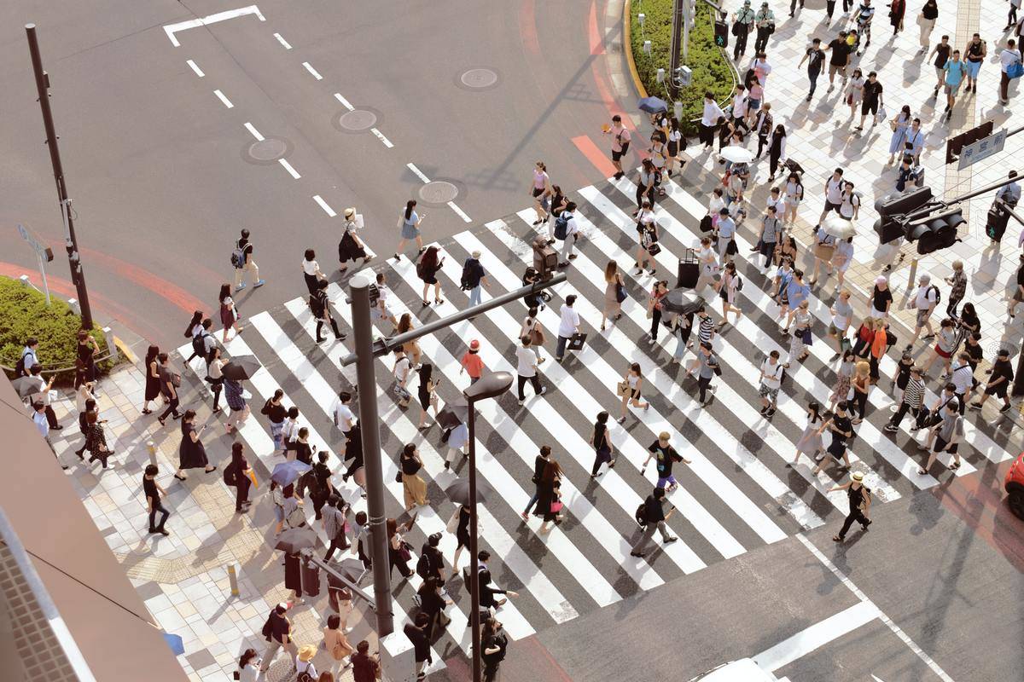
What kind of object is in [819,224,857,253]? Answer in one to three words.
umbrella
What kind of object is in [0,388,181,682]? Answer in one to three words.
building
